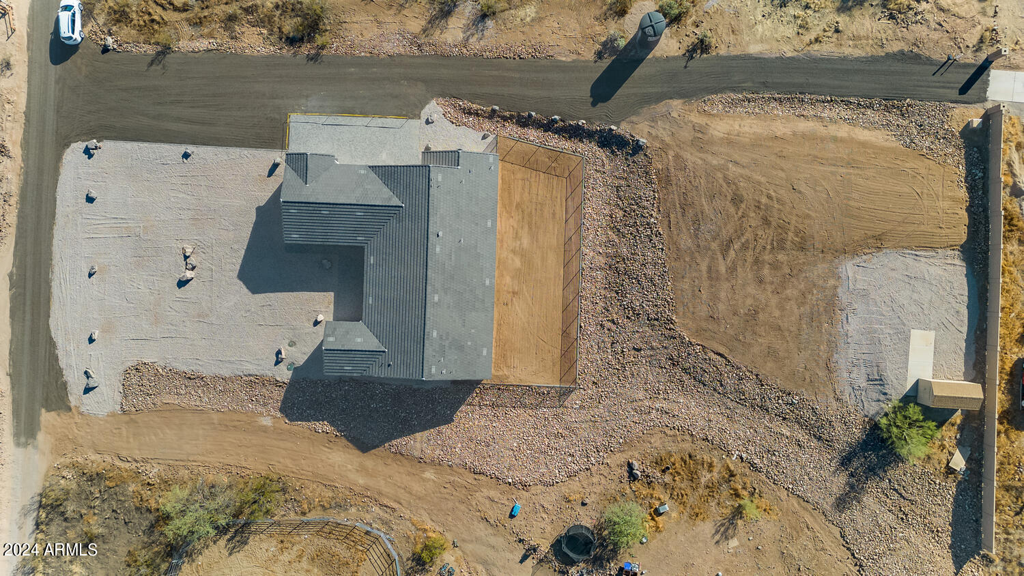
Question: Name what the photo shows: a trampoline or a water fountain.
trampoline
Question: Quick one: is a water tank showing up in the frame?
Yes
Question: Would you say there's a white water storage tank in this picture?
No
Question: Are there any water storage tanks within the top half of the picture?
Yes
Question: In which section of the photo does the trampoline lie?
bottom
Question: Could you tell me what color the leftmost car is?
white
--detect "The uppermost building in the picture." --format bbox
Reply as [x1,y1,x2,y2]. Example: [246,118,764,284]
[279,148,500,383]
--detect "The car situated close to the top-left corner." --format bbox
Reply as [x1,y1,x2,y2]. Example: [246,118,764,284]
[55,0,85,43]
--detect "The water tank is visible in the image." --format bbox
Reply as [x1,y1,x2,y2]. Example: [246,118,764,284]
[634,14,666,52]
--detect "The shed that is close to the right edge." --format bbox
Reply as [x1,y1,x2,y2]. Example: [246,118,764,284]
[917,378,985,409]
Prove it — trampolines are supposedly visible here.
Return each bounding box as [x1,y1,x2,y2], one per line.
[562,524,596,565]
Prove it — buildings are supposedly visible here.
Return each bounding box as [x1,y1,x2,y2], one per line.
[917,378,985,409]
[279,148,500,383]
